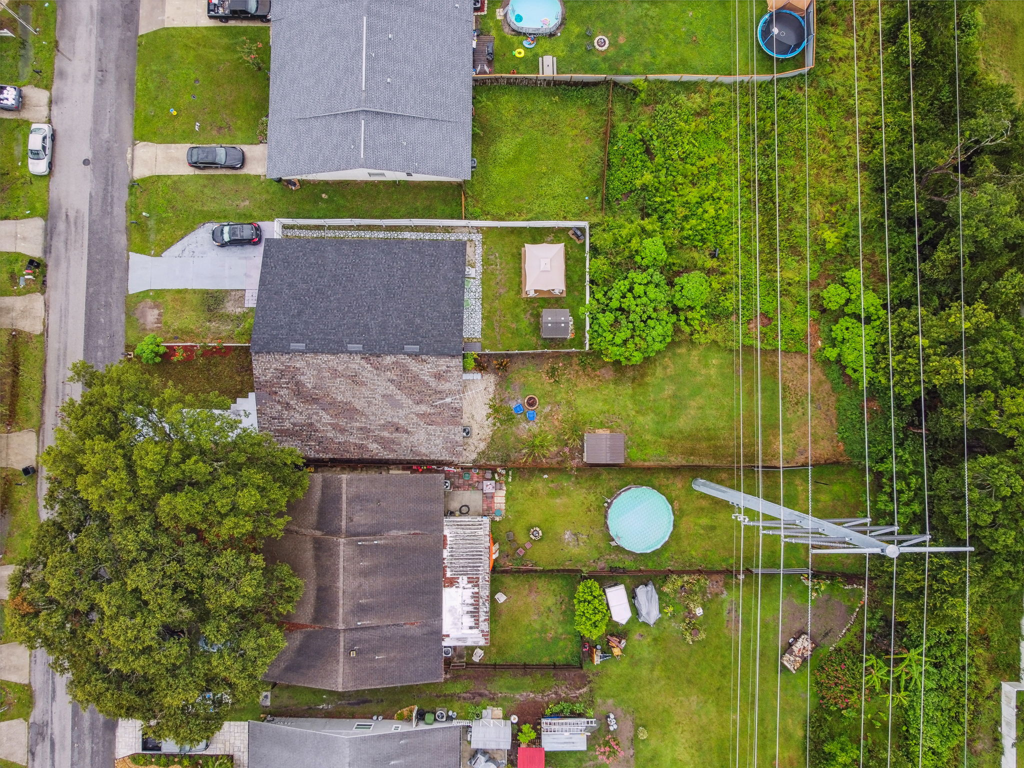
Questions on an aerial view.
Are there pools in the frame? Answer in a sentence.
Yes, the photo shows a pool.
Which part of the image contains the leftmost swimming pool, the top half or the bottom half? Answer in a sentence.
The leftmost swimming pool is in the top half of the image.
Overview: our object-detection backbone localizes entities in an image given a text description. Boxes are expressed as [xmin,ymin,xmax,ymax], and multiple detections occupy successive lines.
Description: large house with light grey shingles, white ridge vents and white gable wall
[266,0,474,182]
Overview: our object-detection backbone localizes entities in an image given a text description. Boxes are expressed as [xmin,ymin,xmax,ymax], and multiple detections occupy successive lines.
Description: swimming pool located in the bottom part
[600,482,674,553]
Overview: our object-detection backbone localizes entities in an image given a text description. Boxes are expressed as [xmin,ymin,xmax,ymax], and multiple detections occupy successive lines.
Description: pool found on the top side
[506,0,564,39]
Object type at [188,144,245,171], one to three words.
car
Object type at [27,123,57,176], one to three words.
car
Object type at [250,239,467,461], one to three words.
house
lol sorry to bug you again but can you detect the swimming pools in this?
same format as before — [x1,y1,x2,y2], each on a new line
[506,0,564,39]
[600,482,674,553]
